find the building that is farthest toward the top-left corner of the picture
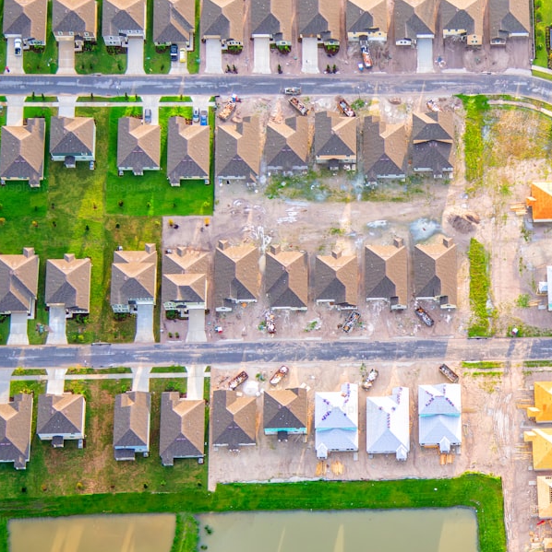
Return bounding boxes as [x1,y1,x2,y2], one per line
[2,0,49,49]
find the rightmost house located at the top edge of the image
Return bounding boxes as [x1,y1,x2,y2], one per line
[488,0,530,48]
